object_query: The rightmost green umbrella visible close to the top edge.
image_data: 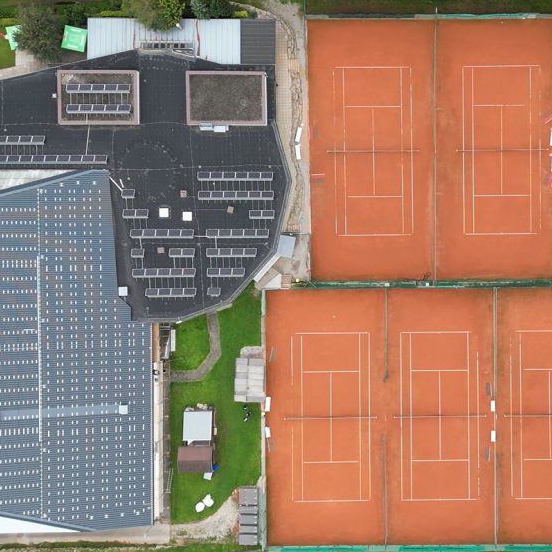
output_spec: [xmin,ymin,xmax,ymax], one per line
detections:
[63,27,88,52]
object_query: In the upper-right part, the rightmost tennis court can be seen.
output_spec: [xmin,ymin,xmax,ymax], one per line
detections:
[436,18,552,281]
